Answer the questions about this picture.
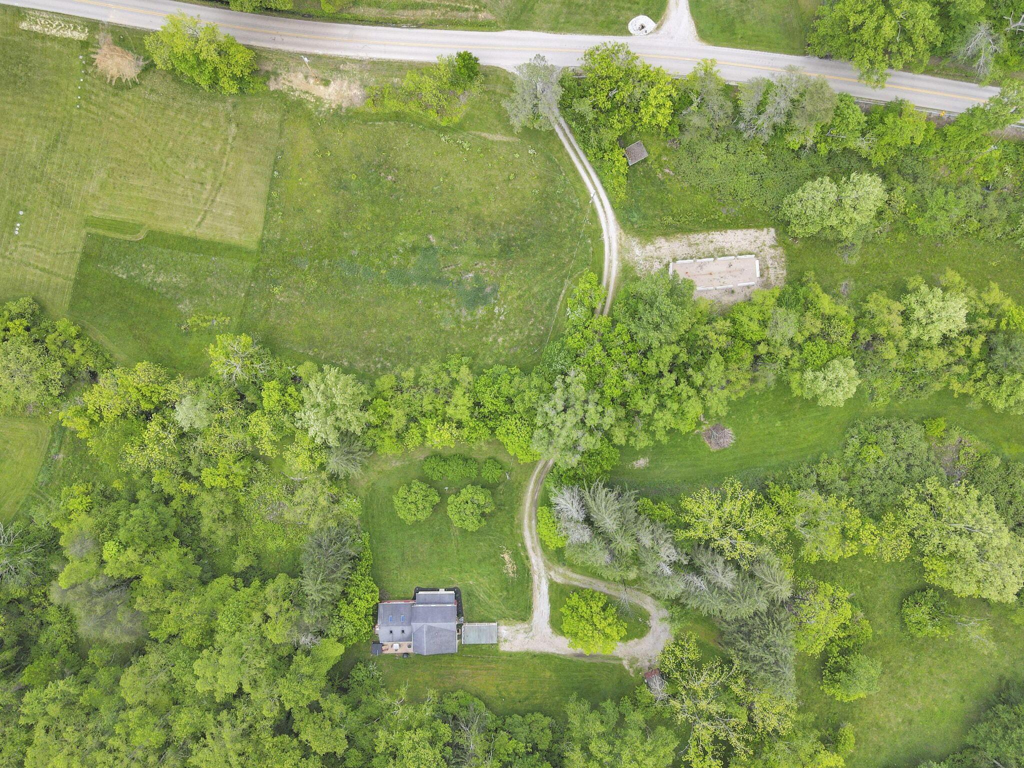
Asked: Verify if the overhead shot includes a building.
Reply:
Yes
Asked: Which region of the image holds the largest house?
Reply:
bottom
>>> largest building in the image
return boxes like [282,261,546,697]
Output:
[378,583,461,658]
